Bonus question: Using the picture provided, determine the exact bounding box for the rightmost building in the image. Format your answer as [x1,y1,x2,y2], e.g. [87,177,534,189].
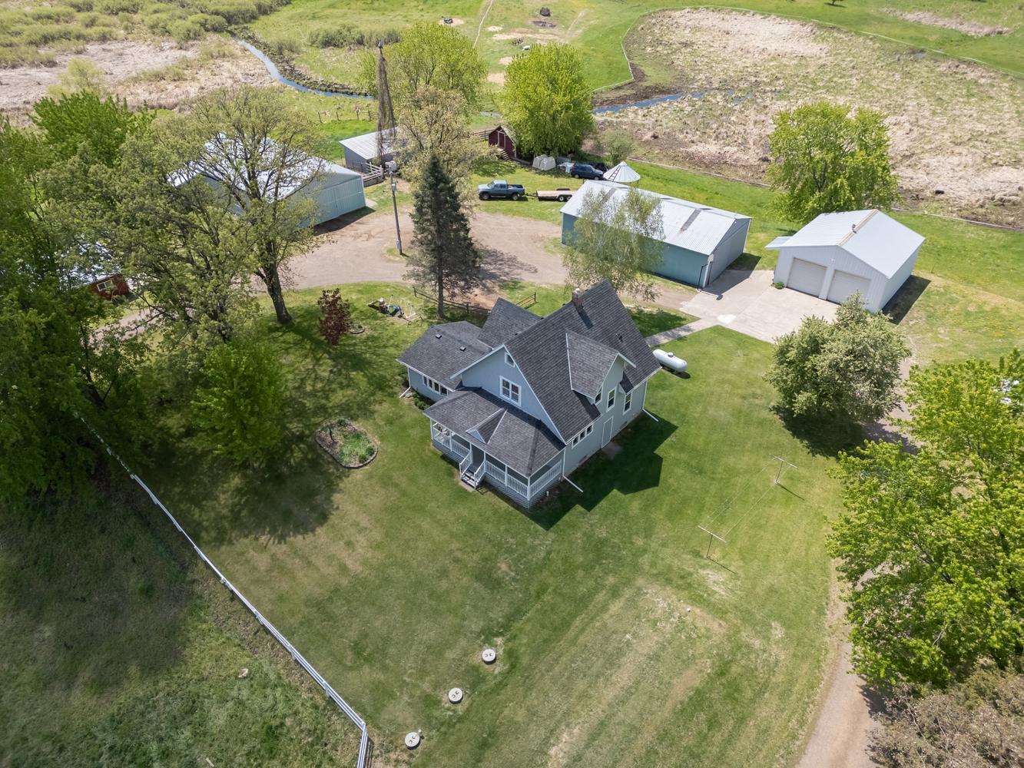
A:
[764,208,926,314]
